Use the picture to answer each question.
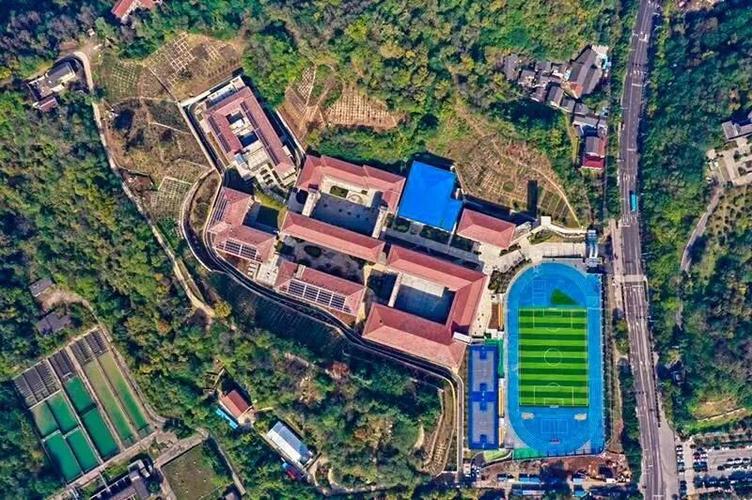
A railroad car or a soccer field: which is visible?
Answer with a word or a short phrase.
soccer field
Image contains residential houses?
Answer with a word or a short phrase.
Yes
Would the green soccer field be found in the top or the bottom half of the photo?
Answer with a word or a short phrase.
bottom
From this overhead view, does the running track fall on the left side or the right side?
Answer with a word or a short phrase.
right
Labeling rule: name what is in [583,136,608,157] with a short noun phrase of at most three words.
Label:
house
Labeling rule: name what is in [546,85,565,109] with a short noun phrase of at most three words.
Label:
house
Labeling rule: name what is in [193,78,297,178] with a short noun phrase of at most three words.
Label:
building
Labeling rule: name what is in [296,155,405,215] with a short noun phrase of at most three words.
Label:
building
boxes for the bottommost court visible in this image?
[472,402,494,442]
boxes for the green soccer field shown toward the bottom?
[519,308,588,407]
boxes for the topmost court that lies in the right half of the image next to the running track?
[472,350,494,391]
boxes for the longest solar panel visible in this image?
[209,197,228,228]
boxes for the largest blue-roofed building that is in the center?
[398,161,464,233]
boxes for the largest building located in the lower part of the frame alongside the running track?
[363,245,488,370]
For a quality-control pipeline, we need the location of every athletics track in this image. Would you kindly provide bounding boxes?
[503,261,602,458]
